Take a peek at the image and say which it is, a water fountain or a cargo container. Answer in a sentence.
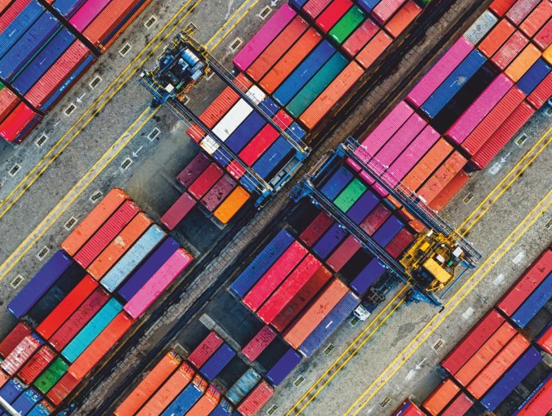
The image shows a cargo container.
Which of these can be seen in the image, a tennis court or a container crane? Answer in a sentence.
This aerial view contains a container crane.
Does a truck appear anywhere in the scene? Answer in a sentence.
Yes, I can see a truck in this picture.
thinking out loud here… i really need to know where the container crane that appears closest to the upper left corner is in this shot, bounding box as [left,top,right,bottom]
[130,21,322,219]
